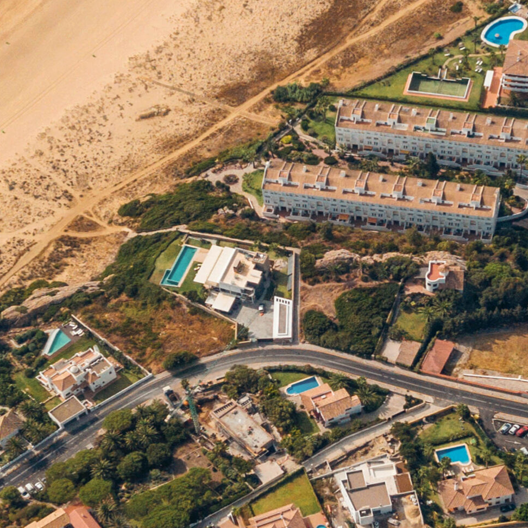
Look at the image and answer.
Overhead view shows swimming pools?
Yes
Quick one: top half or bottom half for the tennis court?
top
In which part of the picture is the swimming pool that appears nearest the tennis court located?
top right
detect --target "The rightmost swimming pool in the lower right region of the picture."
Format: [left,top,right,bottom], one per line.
[433,443,473,467]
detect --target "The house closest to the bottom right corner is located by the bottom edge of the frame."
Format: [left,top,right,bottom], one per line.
[437,465,516,517]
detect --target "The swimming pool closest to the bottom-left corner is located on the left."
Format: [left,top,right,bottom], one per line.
[46,326,73,357]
